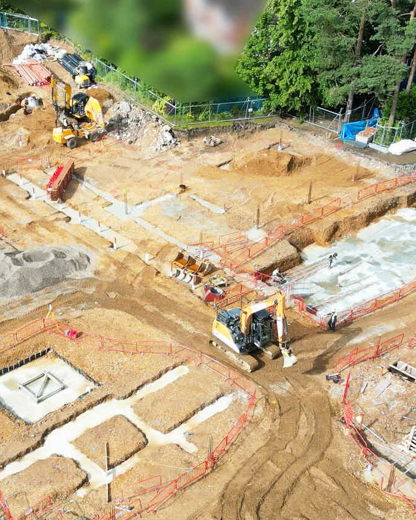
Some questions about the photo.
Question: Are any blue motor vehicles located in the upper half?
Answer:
No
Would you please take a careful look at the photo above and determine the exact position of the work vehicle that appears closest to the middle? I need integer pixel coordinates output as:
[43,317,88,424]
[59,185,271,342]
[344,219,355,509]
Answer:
[201,288,303,377]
